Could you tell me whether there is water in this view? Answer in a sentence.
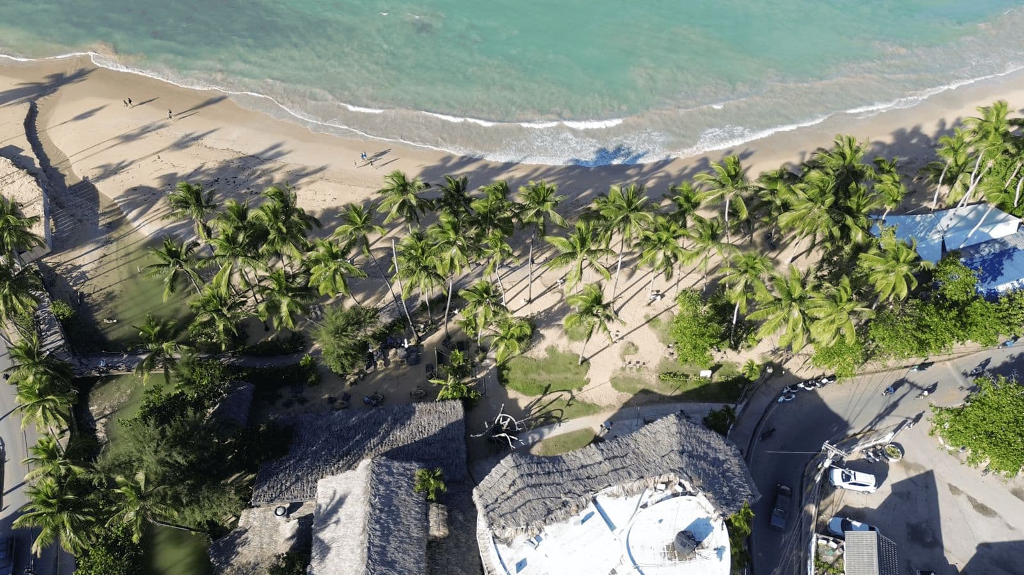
Yes, there's water in this view.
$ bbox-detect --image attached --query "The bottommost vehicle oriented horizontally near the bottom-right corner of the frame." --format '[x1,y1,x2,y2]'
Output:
[825,512,881,537]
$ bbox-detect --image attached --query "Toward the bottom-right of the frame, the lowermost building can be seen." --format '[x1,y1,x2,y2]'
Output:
[828,530,898,575]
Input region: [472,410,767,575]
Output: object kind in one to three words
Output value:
building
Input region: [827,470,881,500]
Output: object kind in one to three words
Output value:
car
